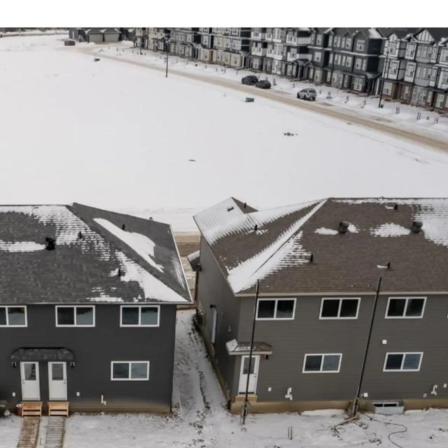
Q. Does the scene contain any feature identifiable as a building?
Yes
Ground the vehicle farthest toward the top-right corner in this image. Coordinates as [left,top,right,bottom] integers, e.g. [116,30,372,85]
[294,86,321,100]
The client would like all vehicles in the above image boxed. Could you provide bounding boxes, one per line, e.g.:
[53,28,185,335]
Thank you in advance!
[294,86,321,100]
[255,77,275,88]
[241,73,261,83]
